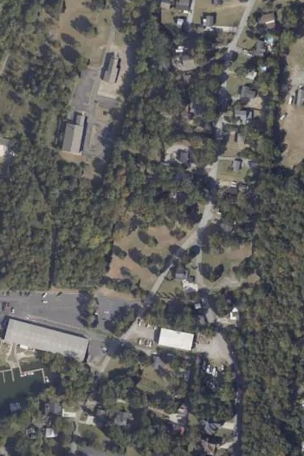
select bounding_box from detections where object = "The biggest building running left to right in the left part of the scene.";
[5,320,90,361]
